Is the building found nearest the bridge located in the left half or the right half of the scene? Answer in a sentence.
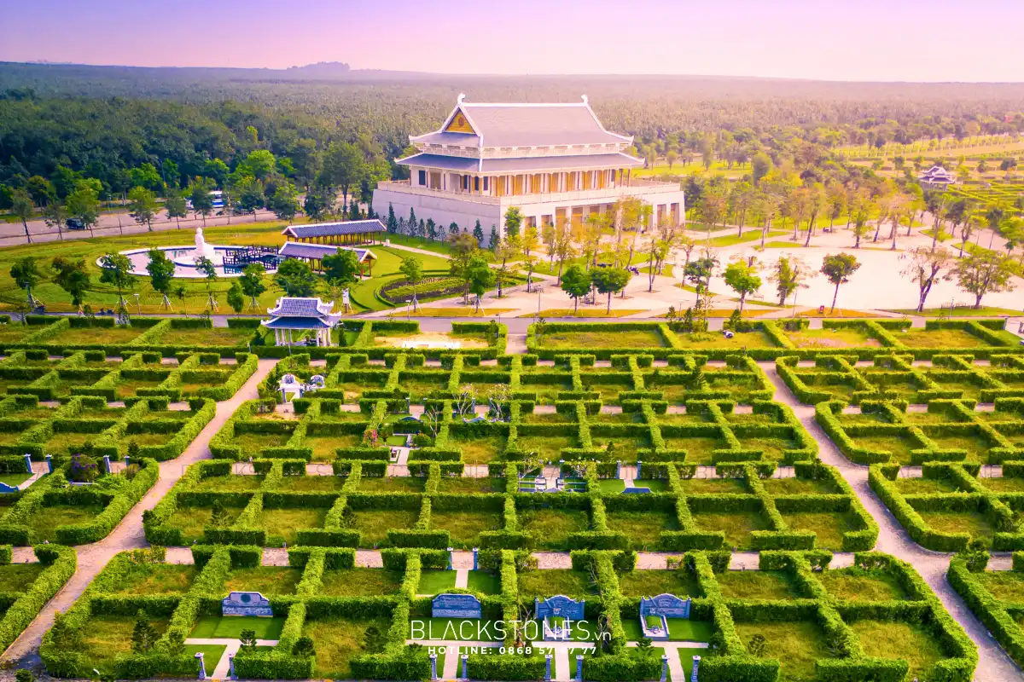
The building found nearest the bridge is on the left side of the image.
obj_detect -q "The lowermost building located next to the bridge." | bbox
[259,292,343,349]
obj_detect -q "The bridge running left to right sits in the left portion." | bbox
[229,245,314,267]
